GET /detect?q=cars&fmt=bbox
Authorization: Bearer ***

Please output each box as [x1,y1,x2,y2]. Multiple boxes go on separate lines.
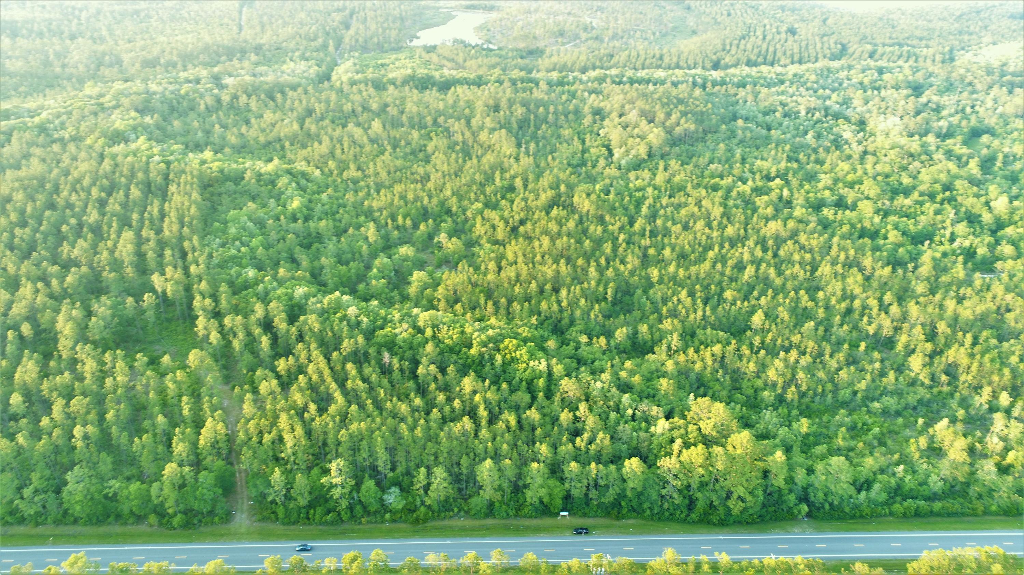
[297,543,313,551]
[573,527,588,534]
